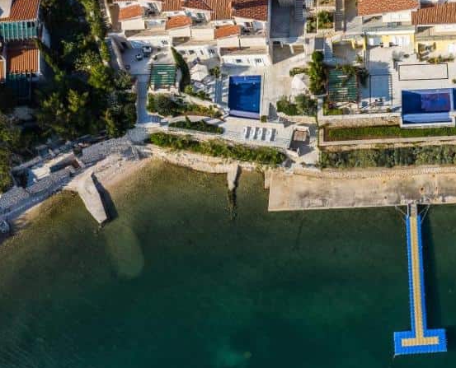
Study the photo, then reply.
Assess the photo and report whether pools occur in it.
Yes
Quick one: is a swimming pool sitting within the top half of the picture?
Yes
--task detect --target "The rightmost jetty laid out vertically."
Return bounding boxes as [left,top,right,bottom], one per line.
[396,200,449,352]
